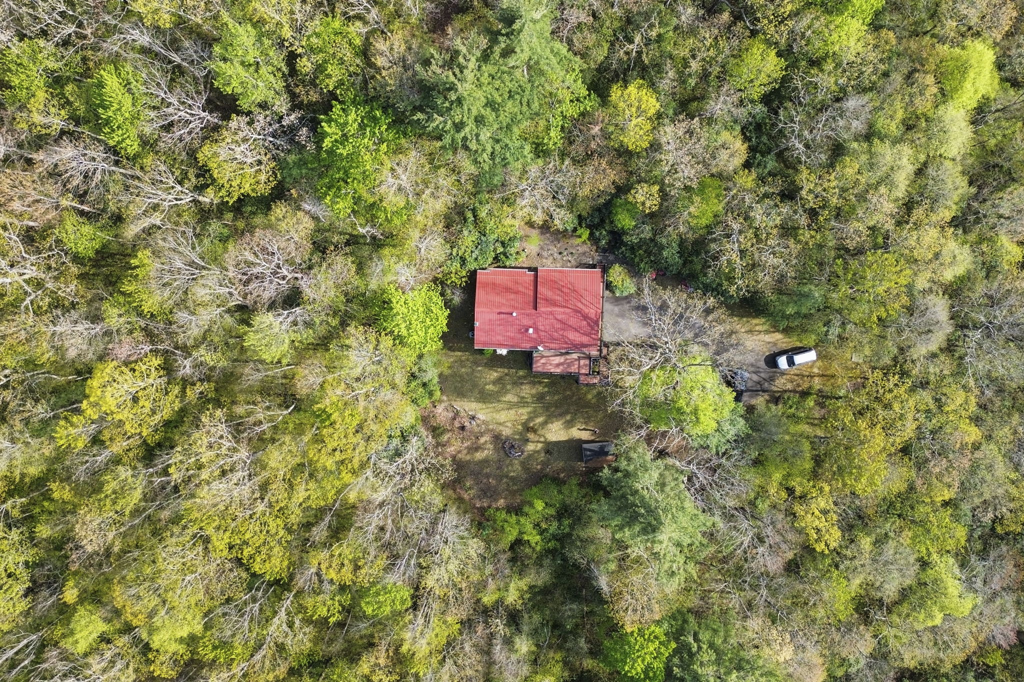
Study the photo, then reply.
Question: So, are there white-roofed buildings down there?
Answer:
No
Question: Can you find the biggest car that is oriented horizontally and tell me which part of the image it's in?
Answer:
right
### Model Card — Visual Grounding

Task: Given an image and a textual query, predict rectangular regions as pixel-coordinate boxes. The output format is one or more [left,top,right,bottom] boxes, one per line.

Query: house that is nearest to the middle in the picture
[473,267,602,353]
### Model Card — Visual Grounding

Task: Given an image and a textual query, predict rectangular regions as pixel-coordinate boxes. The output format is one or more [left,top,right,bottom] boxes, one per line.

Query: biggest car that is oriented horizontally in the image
[775,349,819,370]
